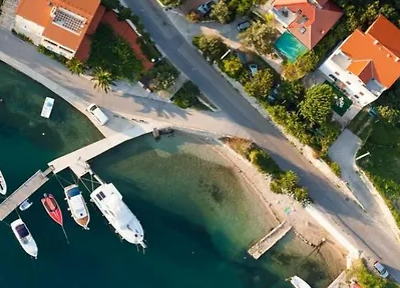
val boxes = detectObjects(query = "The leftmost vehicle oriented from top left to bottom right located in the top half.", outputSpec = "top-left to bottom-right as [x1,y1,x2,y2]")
[88,103,109,125]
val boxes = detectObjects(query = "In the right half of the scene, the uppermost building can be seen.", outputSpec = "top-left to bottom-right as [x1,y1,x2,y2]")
[269,0,349,51]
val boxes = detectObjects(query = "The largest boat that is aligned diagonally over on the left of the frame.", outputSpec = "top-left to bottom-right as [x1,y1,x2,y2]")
[90,181,149,249]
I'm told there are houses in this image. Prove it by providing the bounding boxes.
[318,6,400,96]
[269,0,349,51]
[14,0,105,62]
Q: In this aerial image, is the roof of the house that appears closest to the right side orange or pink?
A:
orange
